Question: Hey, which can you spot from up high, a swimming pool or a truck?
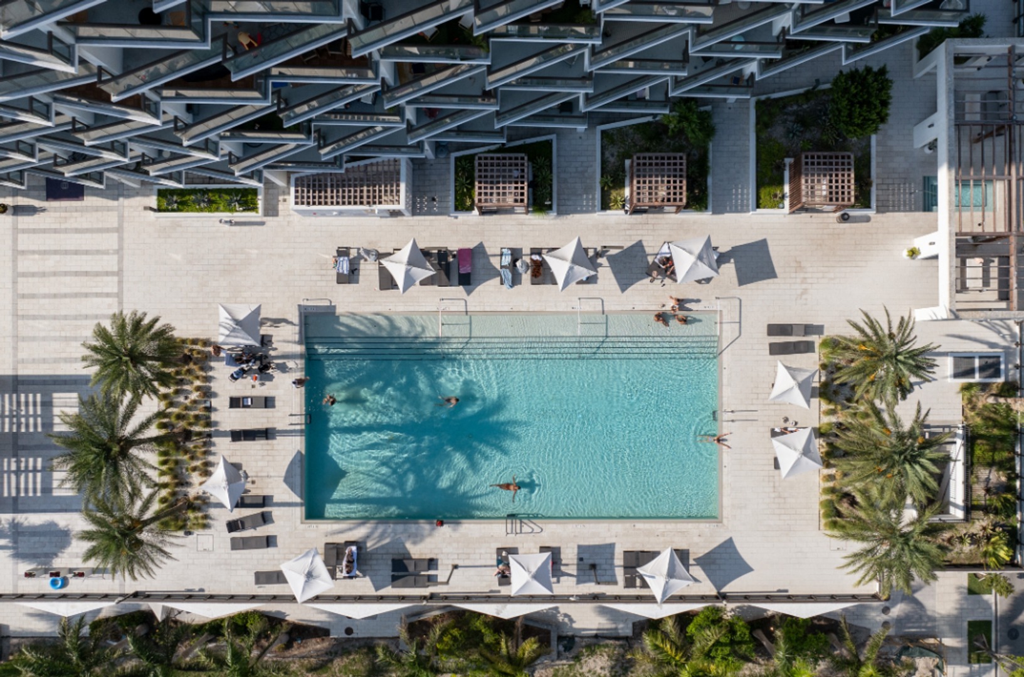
swimming pool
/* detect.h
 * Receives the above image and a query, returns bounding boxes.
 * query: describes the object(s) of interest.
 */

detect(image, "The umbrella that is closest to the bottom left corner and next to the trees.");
[201,457,245,511]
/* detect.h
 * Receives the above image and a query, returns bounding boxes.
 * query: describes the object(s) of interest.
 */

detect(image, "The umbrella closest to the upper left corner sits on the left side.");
[219,305,260,346]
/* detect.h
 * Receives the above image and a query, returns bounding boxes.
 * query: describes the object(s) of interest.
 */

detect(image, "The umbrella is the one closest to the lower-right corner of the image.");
[772,427,822,479]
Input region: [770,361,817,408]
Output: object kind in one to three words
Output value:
umbrella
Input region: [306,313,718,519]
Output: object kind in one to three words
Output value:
swimming pool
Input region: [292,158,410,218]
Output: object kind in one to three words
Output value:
building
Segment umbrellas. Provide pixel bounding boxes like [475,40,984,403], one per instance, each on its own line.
[509,552,553,595]
[770,361,817,408]
[637,548,694,603]
[543,237,596,290]
[380,239,435,292]
[219,305,260,346]
[280,548,334,603]
[201,457,245,511]
[772,427,822,479]
[669,236,718,282]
